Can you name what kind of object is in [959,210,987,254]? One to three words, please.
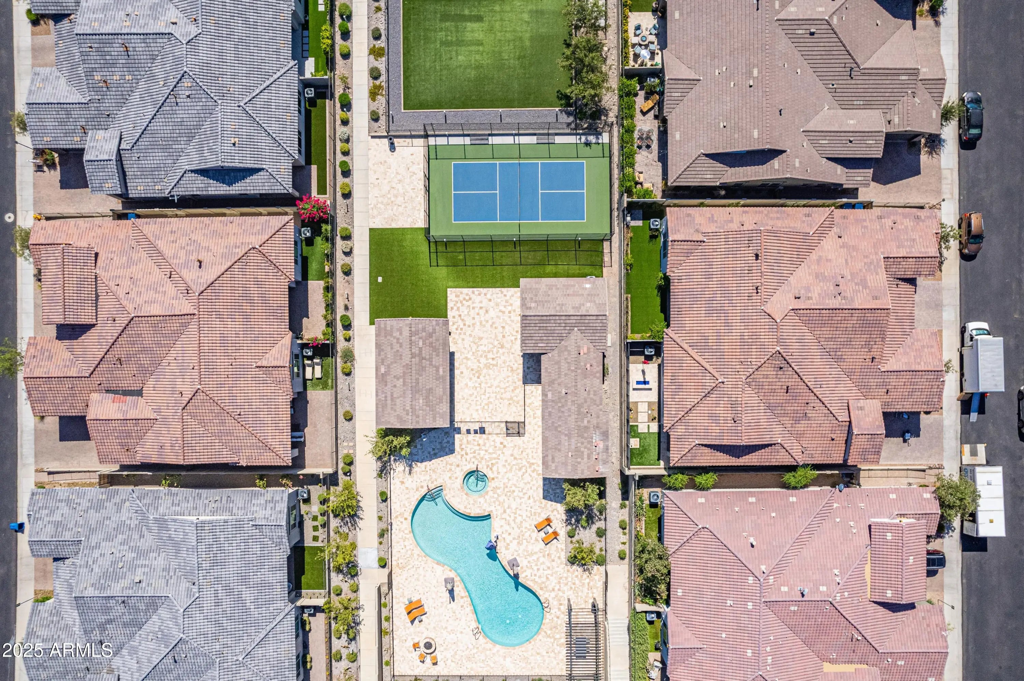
car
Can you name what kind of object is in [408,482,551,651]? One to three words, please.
swimming pool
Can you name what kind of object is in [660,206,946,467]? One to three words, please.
house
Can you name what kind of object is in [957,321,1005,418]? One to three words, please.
truck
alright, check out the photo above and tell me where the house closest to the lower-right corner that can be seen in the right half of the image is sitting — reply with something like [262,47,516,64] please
[660,485,950,681]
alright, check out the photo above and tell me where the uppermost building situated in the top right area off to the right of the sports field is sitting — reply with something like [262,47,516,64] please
[660,0,948,189]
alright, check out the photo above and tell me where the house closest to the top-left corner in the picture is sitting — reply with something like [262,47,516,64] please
[24,0,304,197]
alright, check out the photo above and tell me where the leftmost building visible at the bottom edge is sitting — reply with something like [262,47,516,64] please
[24,485,304,681]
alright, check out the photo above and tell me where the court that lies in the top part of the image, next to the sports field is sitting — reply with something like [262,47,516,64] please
[428,135,611,241]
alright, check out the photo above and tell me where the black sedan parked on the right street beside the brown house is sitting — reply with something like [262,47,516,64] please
[960,91,988,141]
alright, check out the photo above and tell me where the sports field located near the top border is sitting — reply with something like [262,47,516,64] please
[401,0,577,112]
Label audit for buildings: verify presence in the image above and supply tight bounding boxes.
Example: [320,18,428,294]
[374,317,450,429]
[660,206,946,467]
[22,214,301,466]
[660,485,950,681]
[24,0,304,197]
[24,485,304,681]
[519,277,609,478]
[660,0,948,189]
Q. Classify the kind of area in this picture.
residential area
